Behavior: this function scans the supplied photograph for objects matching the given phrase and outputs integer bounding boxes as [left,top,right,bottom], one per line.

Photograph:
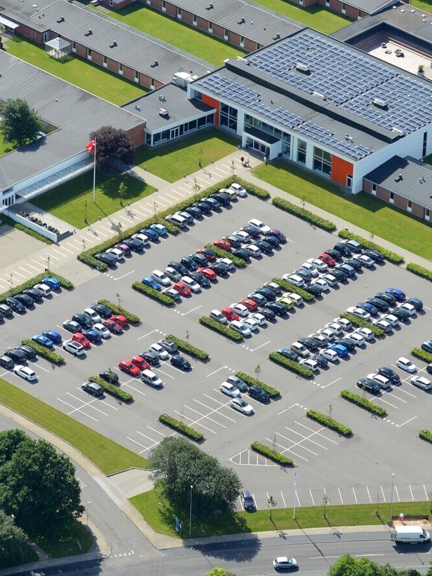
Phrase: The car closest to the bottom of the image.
[273,556,298,569]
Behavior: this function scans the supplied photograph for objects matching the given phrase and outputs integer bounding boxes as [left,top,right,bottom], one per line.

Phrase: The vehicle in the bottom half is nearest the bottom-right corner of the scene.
[389,526,431,545]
